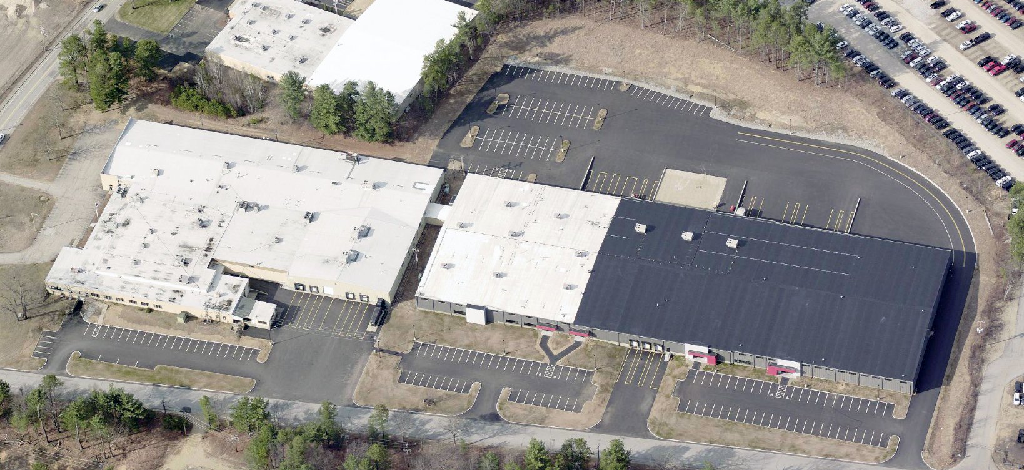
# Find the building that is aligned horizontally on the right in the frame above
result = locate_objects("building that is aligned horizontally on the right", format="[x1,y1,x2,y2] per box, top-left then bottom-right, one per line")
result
[415,172,951,395]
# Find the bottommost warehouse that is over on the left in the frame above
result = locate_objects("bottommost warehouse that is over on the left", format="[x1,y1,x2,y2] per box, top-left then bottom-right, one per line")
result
[45,116,452,337]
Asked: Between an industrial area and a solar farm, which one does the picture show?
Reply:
industrial area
